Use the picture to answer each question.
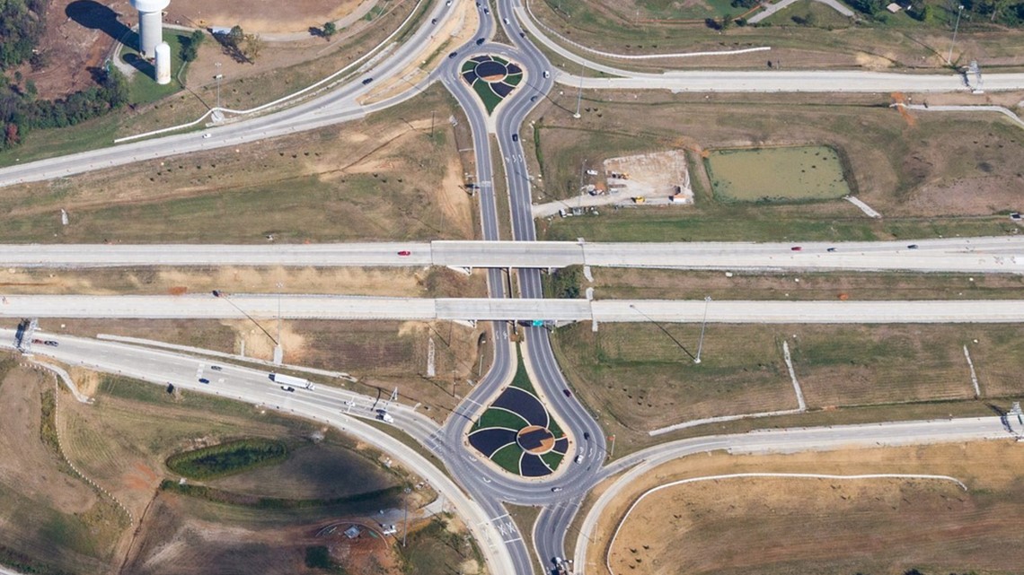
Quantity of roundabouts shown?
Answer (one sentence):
Looking from above, you can make out 2 roundabouts.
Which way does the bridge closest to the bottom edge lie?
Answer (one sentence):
In this picture, the bridge closest to the bottom edge lies horizontally.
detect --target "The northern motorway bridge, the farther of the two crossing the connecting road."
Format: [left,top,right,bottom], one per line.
[430,241,585,279]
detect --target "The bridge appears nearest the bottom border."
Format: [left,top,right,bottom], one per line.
[433,296,592,333]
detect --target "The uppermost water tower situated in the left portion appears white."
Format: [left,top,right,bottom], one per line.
[127,0,171,60]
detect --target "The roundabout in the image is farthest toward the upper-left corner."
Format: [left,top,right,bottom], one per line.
[428,38,557,135]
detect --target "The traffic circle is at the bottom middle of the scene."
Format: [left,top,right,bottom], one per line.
[432,339,624,508]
